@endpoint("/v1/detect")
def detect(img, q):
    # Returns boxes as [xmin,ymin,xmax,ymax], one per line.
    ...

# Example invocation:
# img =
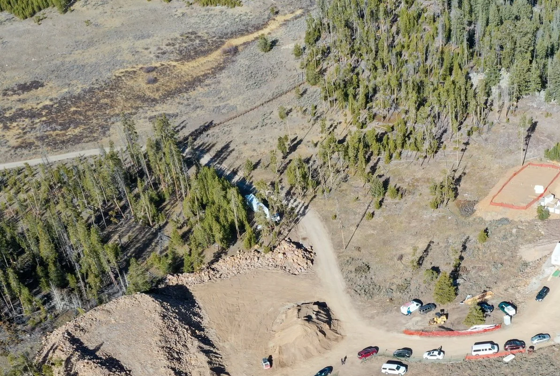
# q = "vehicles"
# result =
[504,342,527,352]
[357,345,379,359]
[536,284,551,299]
[476,297,496,312]
[530,335,552,345]
[311,365,333,376]
[381,365,409,376]
[472,344,499,357]
[427,311,449,324]
[393,348,412,358]
[423,351,444,361]
[496,298,519,316]
[418,301,437,314]
[400,297,424,314]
